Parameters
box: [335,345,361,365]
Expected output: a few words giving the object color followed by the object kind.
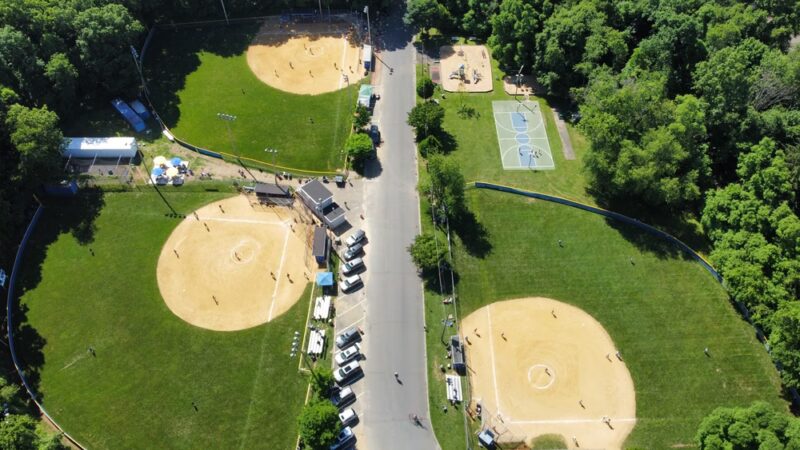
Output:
white car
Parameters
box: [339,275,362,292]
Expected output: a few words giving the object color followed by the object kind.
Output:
white car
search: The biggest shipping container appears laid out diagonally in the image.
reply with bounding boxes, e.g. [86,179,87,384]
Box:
[111,98,148,138]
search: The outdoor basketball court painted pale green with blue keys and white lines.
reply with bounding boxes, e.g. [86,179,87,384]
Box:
[493,101,553,170]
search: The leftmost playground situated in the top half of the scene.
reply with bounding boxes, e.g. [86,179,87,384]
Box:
[440,45,493,92]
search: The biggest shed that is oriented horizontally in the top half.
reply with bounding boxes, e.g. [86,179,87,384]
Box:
[61,138,141,159]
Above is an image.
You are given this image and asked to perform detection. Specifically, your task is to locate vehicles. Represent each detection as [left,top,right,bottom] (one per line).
[342,242,365,260]
[341,256,365,275]
[334,362,360,383]
[339,275,362,292]
[370,123,380,141]
[344,230,367,247]
[335,345,361,365]
[330,427,358,450]
[331,387,359,409]
[334,442,355,450]
[335,406,360,428]
[336,329,362,349]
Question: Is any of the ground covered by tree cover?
Yes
